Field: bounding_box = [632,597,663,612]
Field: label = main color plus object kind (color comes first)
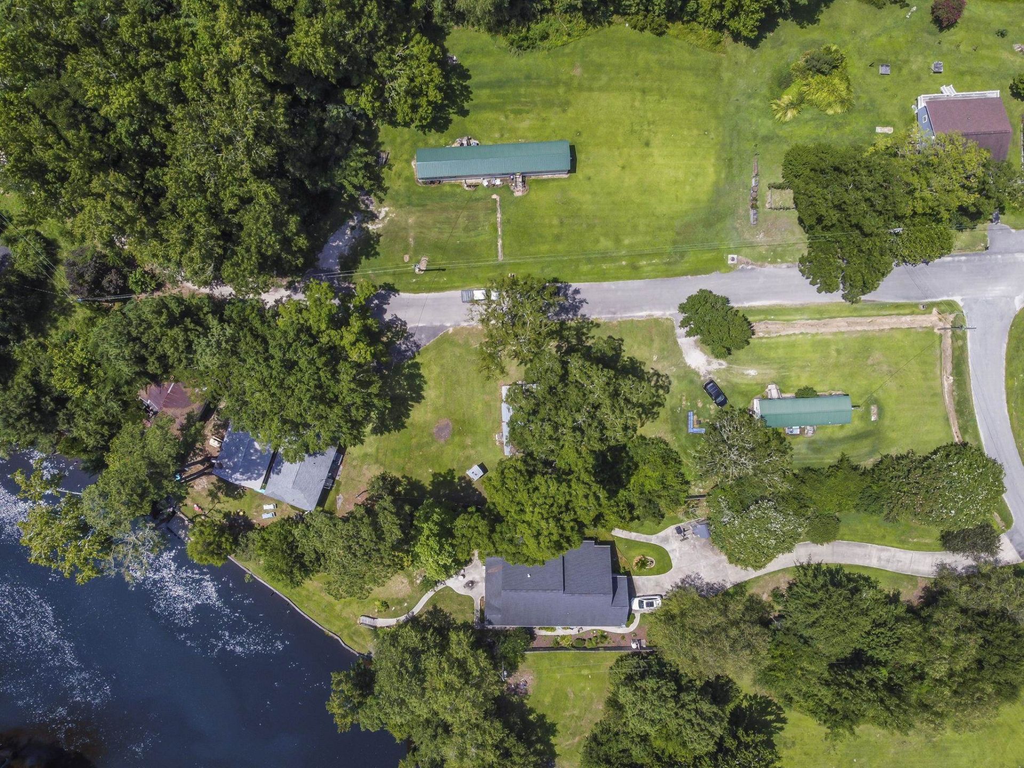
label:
white car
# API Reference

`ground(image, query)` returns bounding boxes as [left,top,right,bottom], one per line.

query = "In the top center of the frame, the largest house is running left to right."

[416,140,570,182]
